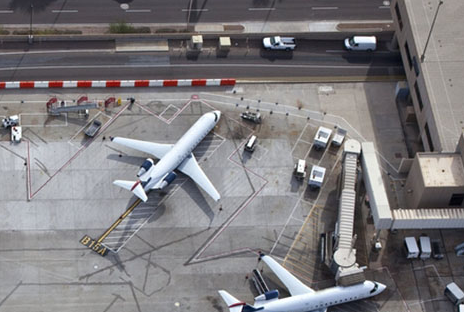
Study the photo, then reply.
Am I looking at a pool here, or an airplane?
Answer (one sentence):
Visible in the photo is an airplane.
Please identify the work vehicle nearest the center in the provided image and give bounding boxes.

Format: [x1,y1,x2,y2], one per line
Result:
[243,134,258,154]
